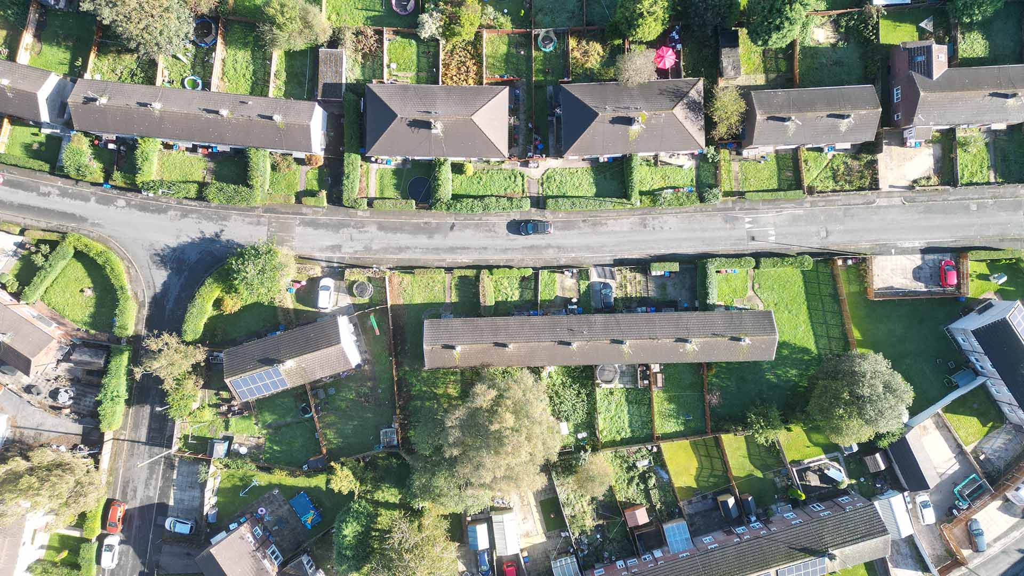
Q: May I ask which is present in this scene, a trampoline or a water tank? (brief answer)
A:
trampoline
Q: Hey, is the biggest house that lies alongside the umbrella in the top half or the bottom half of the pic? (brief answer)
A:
top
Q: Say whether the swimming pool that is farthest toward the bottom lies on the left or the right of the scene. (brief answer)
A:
left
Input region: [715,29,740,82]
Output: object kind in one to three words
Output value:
shed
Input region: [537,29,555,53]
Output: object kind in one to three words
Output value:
trampoline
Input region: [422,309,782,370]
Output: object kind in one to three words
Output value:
house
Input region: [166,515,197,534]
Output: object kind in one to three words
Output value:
car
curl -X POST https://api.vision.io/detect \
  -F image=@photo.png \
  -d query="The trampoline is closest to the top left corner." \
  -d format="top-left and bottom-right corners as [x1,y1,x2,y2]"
[191,19,216,46]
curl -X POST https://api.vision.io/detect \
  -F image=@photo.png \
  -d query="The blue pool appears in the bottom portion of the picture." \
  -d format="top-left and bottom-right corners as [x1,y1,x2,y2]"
[289,487,326,530]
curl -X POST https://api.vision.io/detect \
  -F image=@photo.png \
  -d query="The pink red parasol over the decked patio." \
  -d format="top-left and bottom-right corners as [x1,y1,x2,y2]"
[652,47,676,71]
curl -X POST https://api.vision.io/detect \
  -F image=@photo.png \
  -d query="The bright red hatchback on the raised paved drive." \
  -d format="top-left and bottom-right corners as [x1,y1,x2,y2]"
[938,259,957,289]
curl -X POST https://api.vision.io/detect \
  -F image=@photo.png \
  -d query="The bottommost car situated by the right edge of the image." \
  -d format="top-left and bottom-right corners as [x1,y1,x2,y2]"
[964,517,986,553]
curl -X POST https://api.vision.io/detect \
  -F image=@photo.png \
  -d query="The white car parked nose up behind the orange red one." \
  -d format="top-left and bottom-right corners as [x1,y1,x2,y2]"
[102,533,124,570]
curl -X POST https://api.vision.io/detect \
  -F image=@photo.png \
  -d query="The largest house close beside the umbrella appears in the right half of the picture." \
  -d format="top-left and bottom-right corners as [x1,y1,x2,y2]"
[559,77,706,163]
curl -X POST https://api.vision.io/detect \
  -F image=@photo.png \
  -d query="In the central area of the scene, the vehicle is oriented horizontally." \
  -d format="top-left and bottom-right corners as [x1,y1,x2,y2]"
[519,219,553,236]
